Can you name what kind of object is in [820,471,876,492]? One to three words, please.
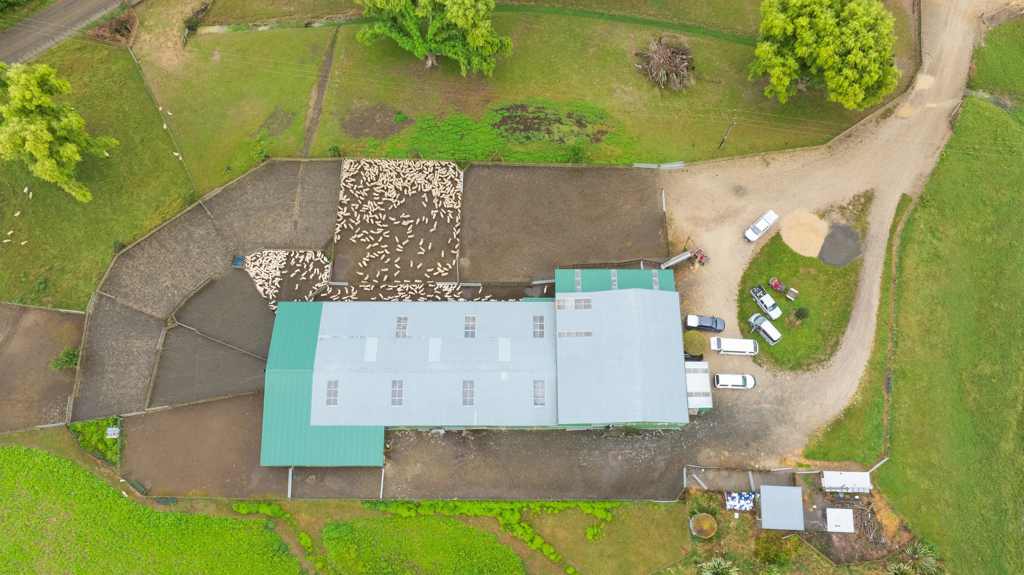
building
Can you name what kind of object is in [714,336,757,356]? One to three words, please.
vehicle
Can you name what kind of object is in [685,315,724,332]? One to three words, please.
vehicle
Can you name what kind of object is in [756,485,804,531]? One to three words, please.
shed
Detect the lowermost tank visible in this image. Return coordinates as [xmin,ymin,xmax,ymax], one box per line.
[687,509,717,540]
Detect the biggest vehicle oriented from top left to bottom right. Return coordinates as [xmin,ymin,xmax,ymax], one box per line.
[748,284,782,321]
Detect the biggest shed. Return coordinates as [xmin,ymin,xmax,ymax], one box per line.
[260,268,690,467]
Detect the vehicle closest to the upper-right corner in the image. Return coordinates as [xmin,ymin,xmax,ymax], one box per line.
[744,210,779,242]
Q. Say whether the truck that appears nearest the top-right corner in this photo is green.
No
